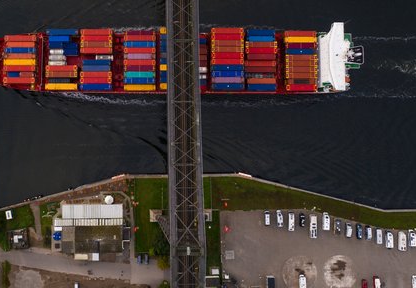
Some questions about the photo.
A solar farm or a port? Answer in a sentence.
This looks like a port.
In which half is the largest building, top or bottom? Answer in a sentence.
It is in the bottom half that the largest building appears.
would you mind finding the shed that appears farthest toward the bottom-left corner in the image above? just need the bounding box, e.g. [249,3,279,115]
[7,228,29,248]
